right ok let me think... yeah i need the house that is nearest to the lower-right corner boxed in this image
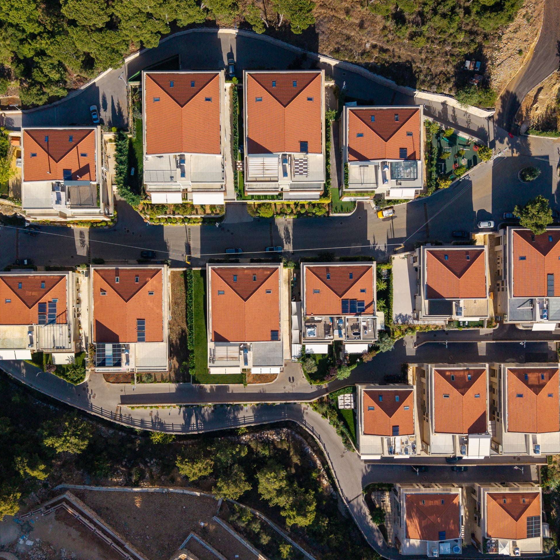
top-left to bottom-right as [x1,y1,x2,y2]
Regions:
[465,478,543,557]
